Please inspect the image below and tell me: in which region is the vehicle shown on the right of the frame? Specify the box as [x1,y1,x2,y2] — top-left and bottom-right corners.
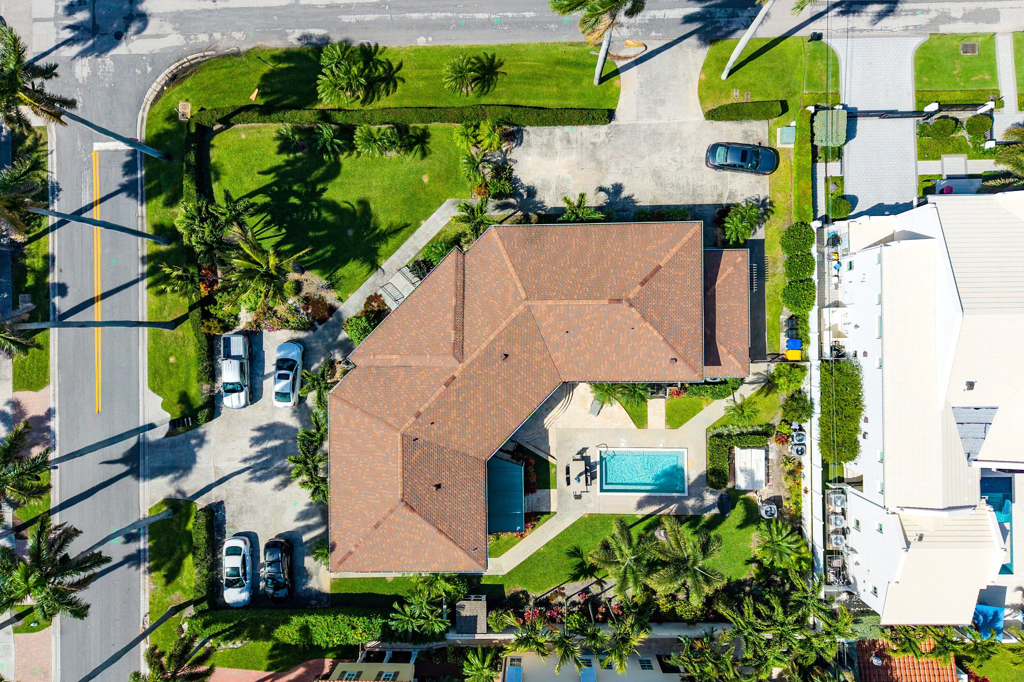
[704,141,779,176]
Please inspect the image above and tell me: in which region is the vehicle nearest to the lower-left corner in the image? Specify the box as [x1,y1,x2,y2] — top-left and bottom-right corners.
[219,536,255,607]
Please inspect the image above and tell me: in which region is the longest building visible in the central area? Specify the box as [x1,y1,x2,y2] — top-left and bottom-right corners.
[326,219,752,575]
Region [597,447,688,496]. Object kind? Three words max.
swimming pool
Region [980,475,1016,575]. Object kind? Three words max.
swimming pool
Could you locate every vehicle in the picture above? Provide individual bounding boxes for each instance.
[704,141,779,176]
[260,536,293,603]
[219,536,255,607]
[271,342,305,408]
[216,333,254,409]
